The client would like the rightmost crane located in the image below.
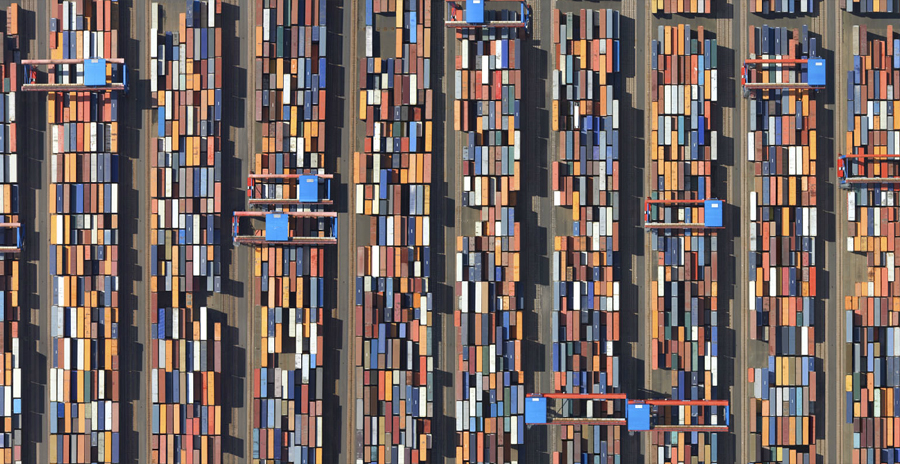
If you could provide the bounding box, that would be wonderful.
[835,152,900,194]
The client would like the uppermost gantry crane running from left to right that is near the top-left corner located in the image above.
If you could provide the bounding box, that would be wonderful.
[21,57,127,102]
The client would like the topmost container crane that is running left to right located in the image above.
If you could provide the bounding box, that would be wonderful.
[444,0,524,40]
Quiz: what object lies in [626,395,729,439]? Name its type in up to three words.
container crane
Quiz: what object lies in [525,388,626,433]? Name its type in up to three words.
container crane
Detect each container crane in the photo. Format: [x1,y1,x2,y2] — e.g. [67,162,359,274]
[641,197,725,239]
[249,171,333,212]
[21,57,127,102]
[626,395,729,439]
[444,0,524,40]
[525,388,626,433]
[234,209,338,254]
[741,58,826,101]
[0,220,24,254]
[835,152,900,194]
